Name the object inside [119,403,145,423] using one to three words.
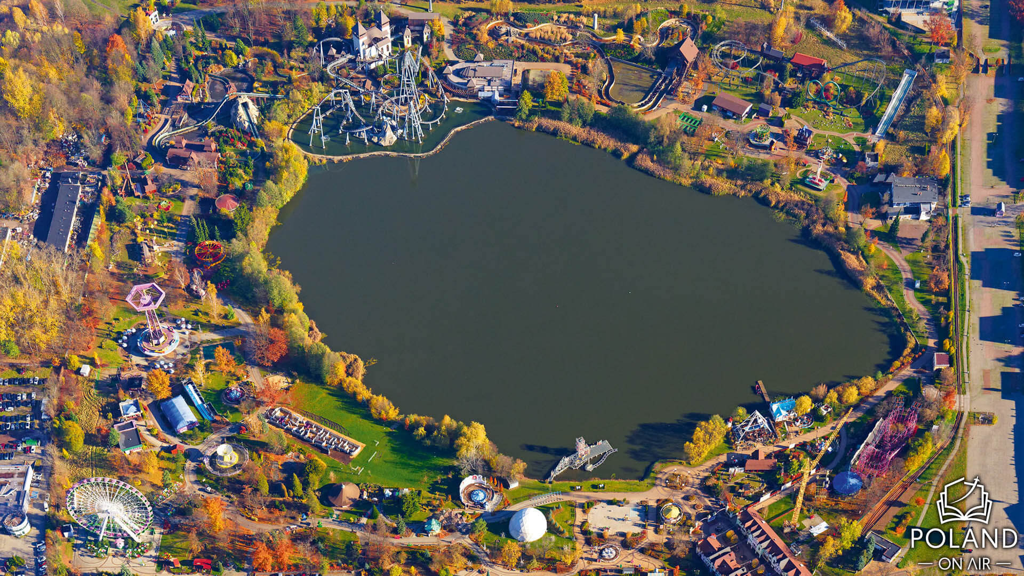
house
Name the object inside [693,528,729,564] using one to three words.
house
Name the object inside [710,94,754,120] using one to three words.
building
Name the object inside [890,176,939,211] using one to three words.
building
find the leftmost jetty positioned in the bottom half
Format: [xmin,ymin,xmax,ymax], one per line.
[546,435,618,482]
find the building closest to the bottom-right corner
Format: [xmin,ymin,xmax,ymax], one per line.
[864,531,902,564]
